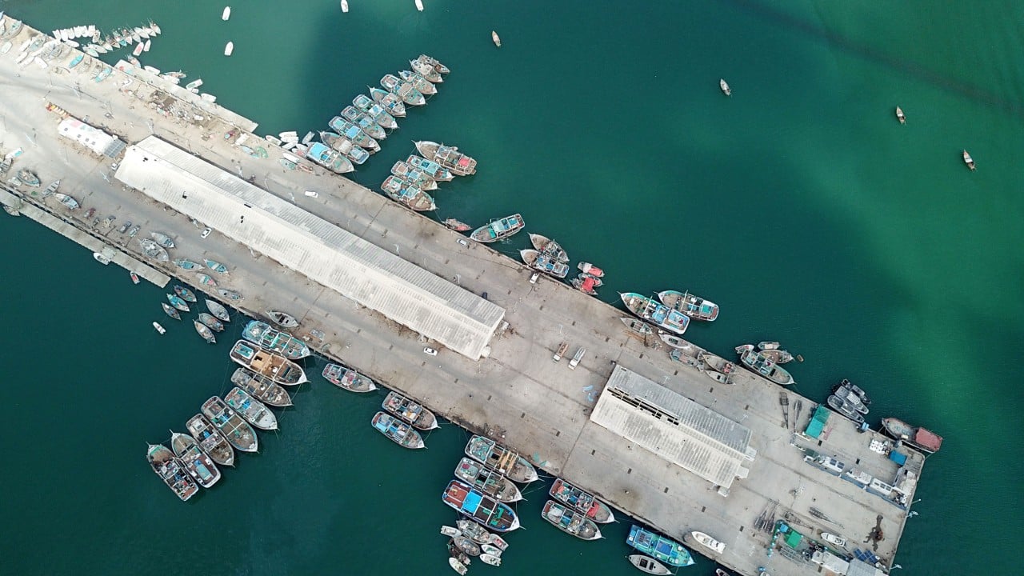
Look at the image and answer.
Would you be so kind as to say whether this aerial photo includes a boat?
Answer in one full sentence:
Yes, there's a boat down there.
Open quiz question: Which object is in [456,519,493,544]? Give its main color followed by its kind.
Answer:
gray boat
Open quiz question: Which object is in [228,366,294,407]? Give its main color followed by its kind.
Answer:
gray boat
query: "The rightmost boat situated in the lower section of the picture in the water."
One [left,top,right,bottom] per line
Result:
[877,416,944,456]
